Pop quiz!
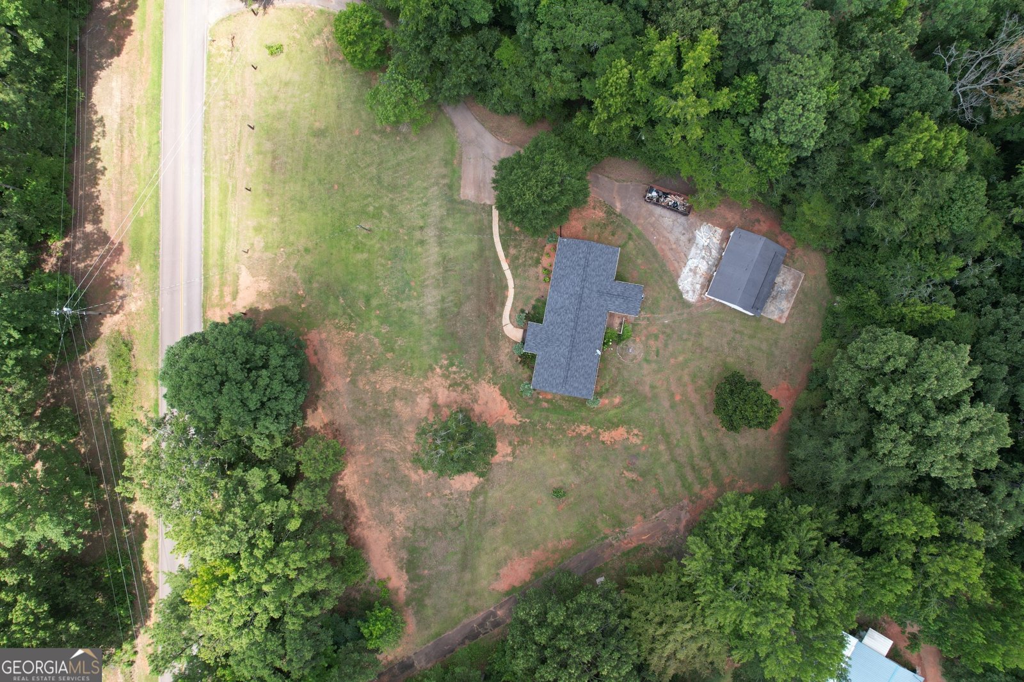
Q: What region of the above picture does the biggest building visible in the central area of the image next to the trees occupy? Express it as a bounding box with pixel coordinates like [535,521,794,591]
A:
[520,238,643,398]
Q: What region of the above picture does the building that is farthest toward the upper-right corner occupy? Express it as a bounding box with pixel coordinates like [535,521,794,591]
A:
[703,227,788,320]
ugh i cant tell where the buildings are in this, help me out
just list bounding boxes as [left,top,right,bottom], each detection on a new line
[811,632,924,682]
[703,227,788,320]
[520,238,643,398]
